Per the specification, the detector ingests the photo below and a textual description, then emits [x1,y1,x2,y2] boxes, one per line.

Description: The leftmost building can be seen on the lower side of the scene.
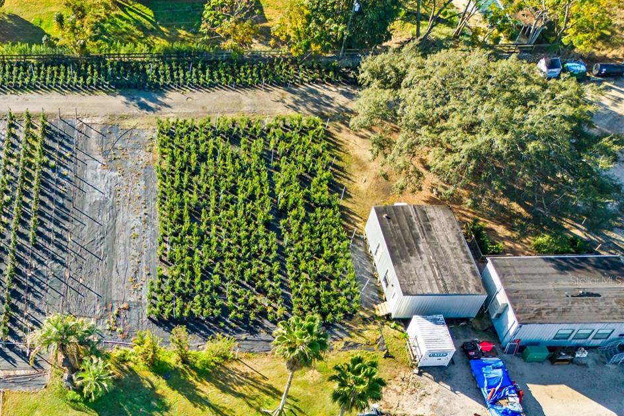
[363,202,492,316]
